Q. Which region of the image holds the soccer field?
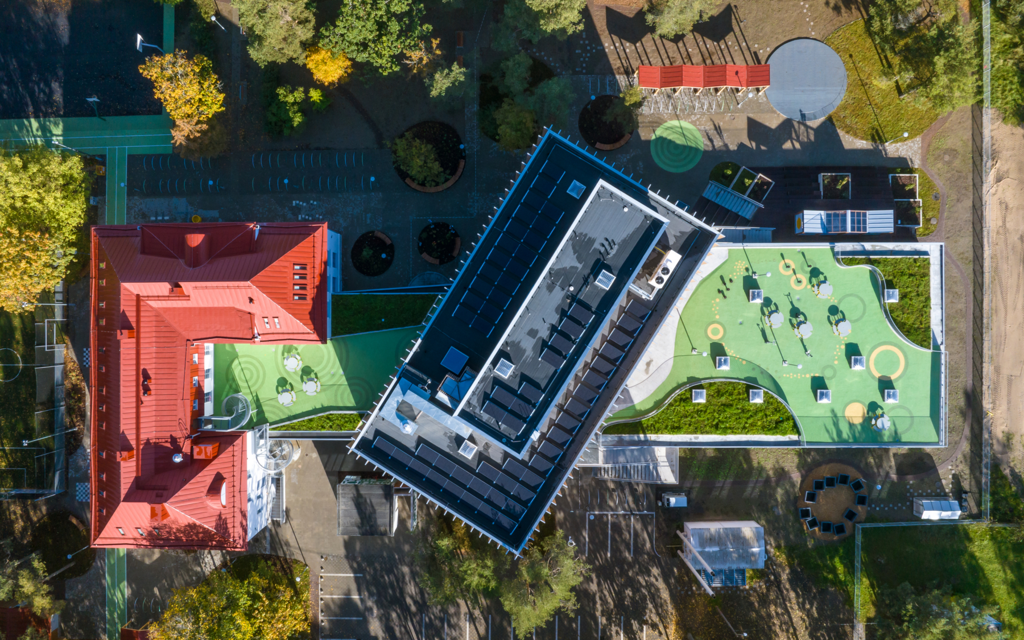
left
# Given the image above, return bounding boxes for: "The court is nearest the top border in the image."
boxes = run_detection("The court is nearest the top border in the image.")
[0,0,163,120]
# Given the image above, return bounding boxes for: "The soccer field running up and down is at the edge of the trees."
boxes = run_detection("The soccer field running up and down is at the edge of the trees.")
[0,274,65,498]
